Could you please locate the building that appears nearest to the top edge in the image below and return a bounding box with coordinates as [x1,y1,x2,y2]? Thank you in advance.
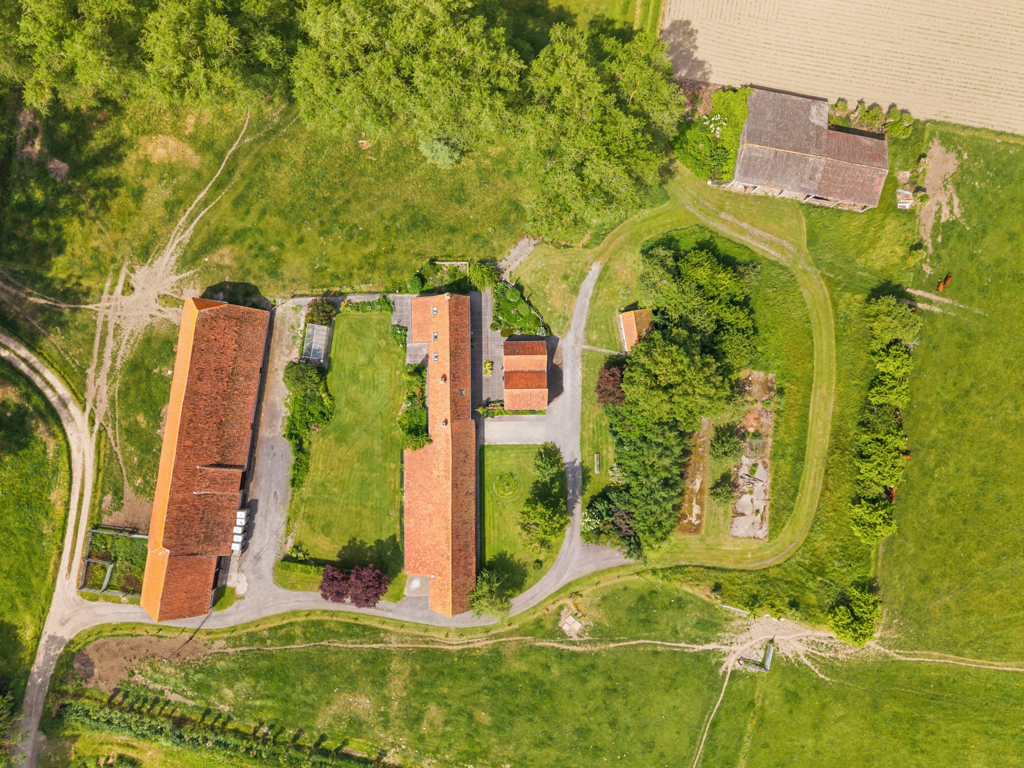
[727,86,889,214]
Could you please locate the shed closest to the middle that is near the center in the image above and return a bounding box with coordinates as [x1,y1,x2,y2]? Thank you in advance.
[502,340,548,410]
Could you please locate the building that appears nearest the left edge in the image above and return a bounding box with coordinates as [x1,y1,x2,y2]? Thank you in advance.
[140,297,270,622]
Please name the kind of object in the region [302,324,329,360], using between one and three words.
greenhouse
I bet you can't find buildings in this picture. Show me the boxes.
[502,340,548,410]
[403,293,477,617]
[140,297,270,622]
[619,308,657,351]
[727,86,889,214]
[302,324,329,360]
